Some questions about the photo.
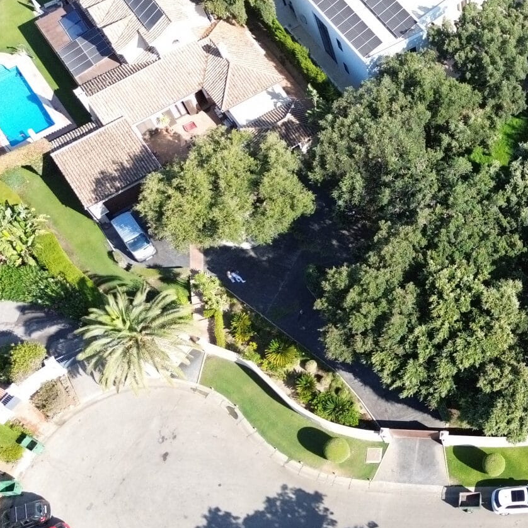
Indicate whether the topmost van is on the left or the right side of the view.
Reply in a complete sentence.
The topmost van appears in the left half of the scene.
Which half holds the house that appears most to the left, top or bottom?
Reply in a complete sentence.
The top half of the photo is where the house that appears most to the left is.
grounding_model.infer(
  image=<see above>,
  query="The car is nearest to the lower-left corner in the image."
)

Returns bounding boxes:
[0,500,56,528]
